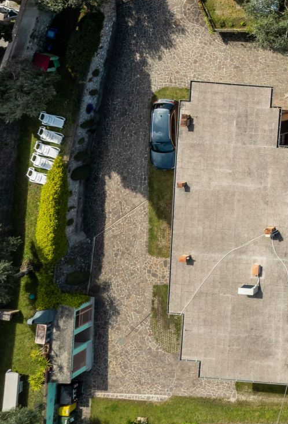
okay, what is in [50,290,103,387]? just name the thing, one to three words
shed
